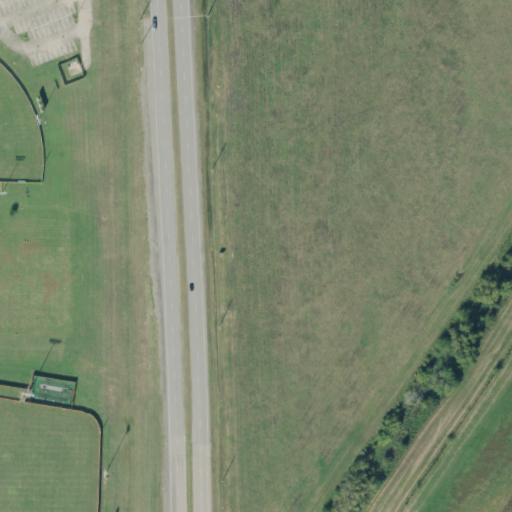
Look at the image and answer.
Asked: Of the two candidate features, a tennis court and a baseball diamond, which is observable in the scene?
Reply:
baseball diamond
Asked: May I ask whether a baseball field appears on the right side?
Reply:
No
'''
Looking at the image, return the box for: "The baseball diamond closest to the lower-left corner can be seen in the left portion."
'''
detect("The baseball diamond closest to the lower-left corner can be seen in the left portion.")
[0,398,100,512]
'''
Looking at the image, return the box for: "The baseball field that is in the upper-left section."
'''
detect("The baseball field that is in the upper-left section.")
[0,64,42,182]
